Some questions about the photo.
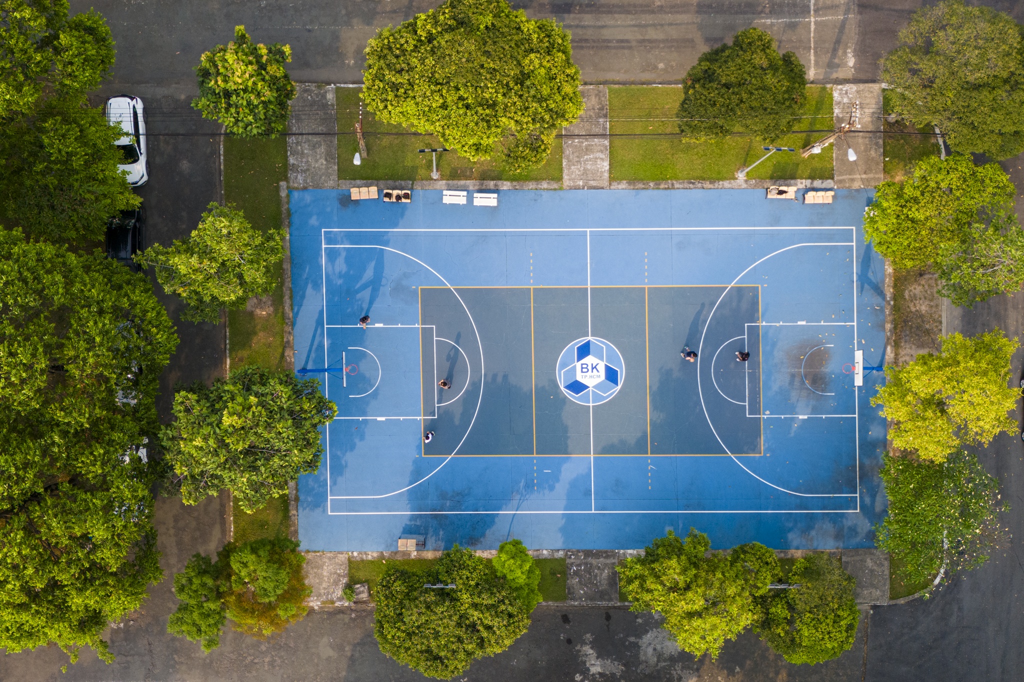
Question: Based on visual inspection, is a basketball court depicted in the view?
Yes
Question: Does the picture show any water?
No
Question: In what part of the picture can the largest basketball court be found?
center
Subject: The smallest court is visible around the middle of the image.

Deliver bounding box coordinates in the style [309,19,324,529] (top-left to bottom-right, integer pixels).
[412,253,770,490]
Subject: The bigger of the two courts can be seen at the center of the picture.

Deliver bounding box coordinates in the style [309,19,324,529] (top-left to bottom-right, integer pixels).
[289,188,889,552]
